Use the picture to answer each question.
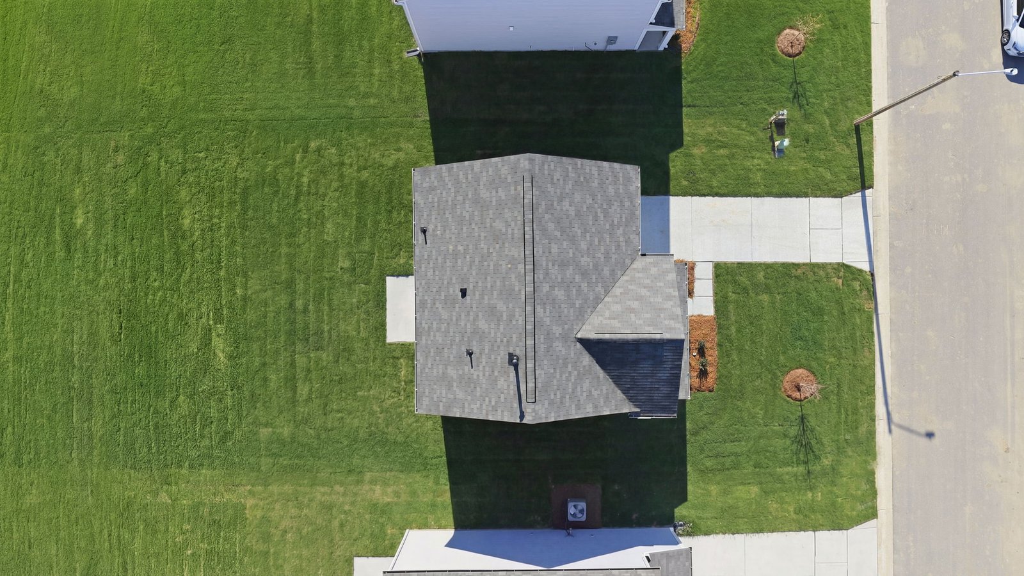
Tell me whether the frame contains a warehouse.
No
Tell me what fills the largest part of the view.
grass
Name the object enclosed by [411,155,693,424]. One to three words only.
house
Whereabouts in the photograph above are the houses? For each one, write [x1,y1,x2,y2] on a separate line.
[393,0,688,56]
[411,155,693,424]
[382,529,693,576]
